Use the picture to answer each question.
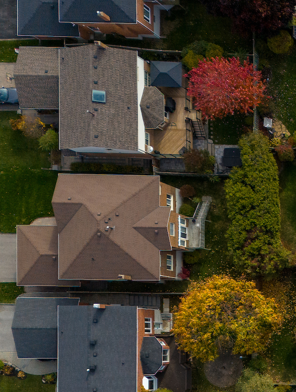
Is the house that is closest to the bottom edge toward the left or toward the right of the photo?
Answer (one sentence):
The house that is closest to the bottom edge sits on the left side.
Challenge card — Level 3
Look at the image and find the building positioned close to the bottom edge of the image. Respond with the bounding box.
[6,297,170,392]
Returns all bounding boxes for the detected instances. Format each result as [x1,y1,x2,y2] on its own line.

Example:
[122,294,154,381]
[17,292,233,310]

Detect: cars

[0,87,15,104]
